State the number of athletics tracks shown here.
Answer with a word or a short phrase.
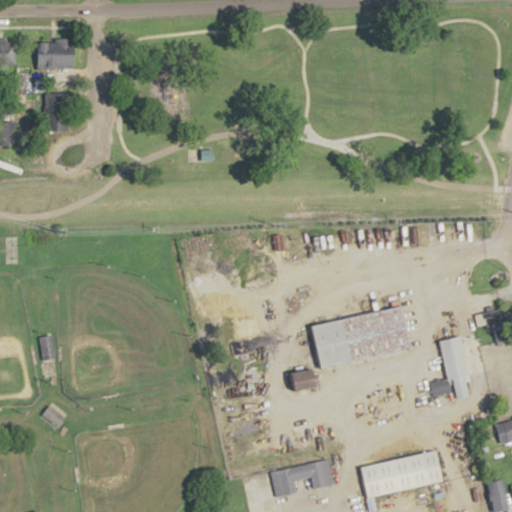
0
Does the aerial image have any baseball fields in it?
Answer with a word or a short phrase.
Yes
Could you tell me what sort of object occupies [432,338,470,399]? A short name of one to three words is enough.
shed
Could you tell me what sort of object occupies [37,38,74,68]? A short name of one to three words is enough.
house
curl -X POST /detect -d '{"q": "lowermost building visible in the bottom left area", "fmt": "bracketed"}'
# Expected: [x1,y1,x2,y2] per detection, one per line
[40,404,66,428]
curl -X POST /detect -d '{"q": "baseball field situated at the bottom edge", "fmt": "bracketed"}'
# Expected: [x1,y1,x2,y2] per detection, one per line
[76,417,197,512]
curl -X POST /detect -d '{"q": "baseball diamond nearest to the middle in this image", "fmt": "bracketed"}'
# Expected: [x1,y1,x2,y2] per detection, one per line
[58,267,196,405]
